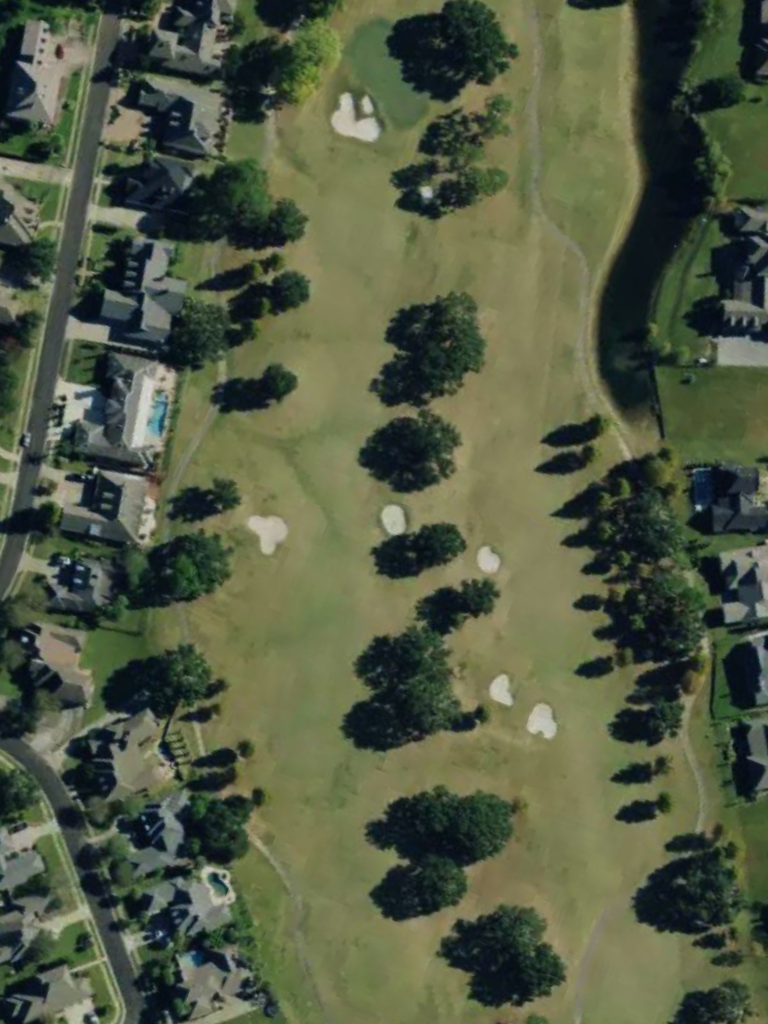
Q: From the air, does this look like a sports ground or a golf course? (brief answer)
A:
golf course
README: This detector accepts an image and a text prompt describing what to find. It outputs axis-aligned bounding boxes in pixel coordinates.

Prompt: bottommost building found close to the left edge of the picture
[1,958,98,1024]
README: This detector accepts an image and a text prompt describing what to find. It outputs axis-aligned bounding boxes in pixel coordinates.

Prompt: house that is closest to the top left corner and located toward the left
[7,22,64,135]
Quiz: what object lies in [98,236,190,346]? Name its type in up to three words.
house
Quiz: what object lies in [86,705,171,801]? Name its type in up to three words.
house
